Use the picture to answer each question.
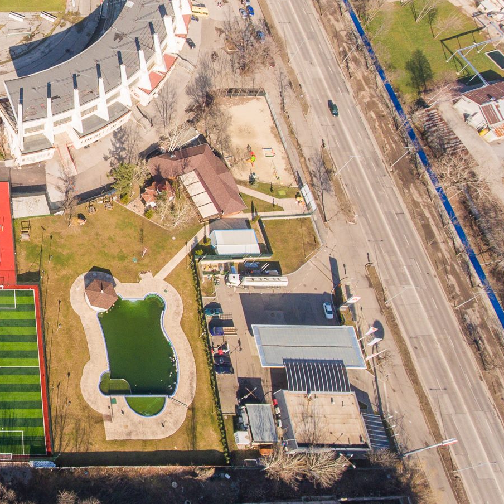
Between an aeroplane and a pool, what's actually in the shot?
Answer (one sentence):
It is a pool that can be seen here.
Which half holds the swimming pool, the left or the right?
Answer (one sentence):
It is on the left.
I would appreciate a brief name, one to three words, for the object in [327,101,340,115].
vehicle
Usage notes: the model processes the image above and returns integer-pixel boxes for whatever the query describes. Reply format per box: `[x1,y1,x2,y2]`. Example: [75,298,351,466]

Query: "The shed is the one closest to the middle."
[207,231,262,254]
